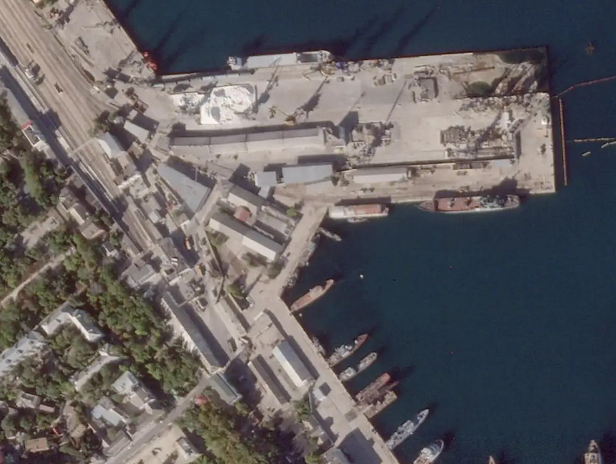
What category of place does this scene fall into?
port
